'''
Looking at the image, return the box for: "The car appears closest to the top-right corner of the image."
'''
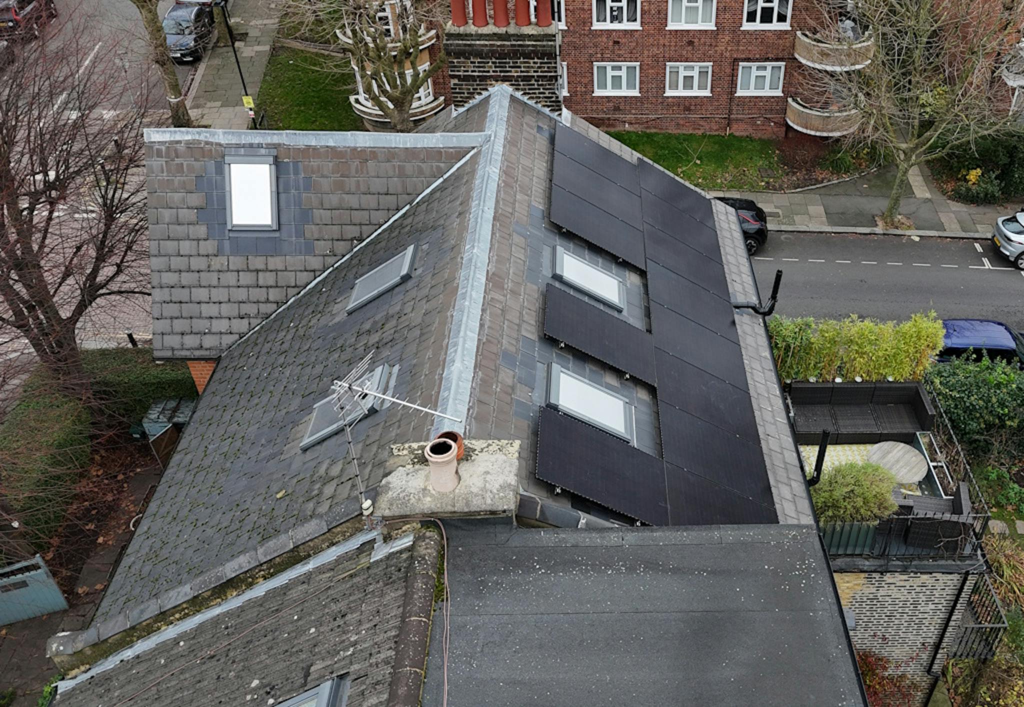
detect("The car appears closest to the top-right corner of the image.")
[989,201,1024,272]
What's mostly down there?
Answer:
buildings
